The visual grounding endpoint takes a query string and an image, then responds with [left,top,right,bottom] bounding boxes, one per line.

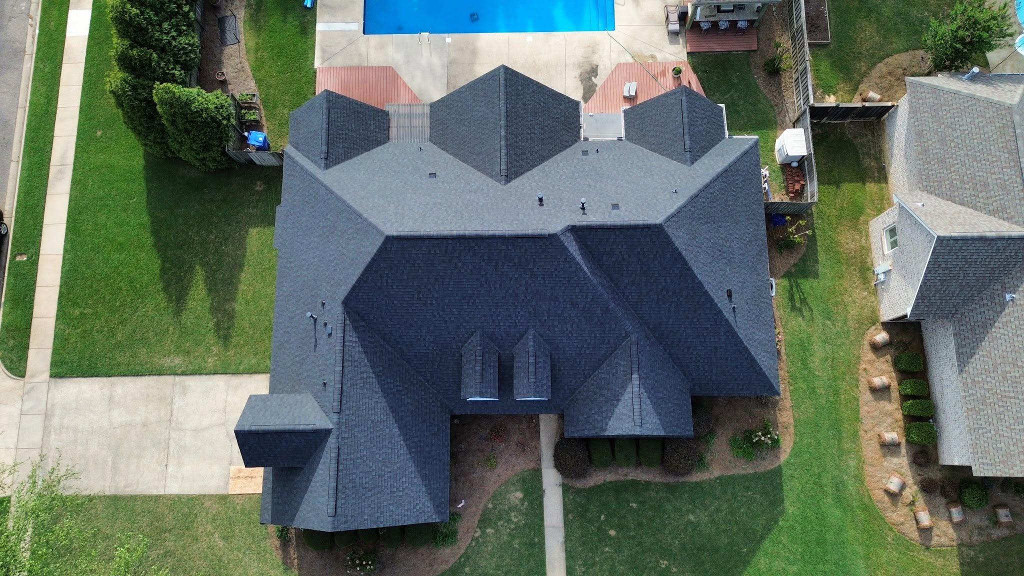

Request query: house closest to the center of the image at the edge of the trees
[232,65,782,532]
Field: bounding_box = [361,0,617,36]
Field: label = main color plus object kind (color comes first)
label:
blue swimming pool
